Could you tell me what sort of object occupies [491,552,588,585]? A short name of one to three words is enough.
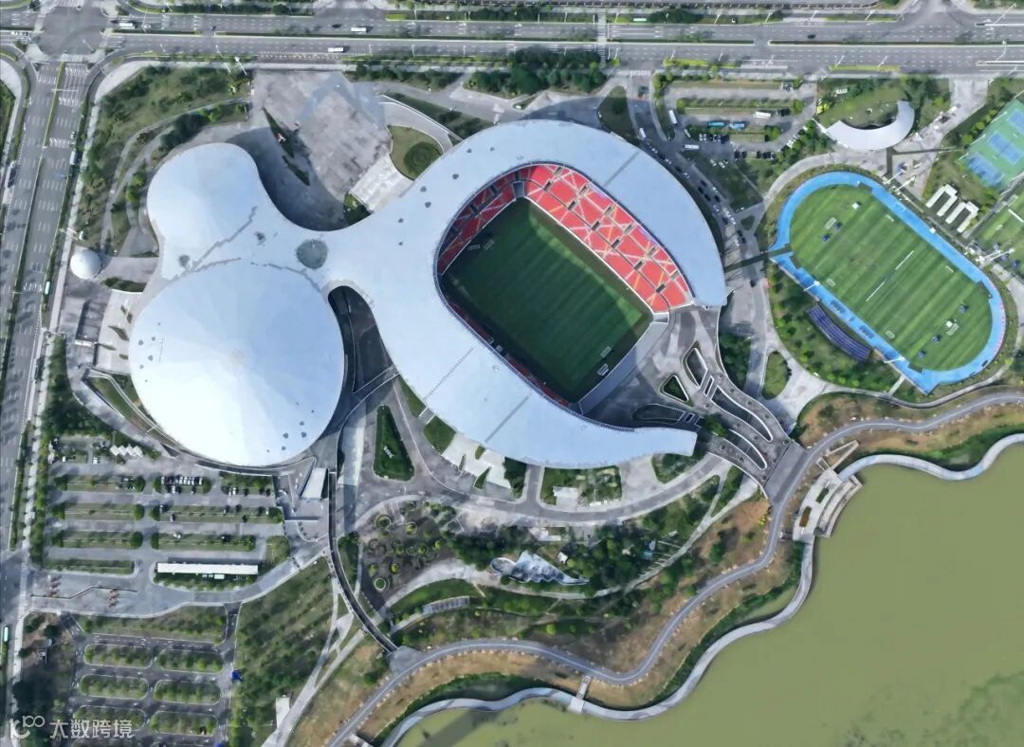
building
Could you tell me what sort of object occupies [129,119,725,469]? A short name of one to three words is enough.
stadium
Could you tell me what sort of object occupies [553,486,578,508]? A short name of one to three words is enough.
building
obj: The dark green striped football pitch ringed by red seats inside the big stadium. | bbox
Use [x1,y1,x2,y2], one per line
[437,192,659,408]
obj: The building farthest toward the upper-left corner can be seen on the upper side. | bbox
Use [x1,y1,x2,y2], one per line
[71,249,105,280]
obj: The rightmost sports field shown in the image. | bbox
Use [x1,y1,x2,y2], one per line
[968,182,1024,282]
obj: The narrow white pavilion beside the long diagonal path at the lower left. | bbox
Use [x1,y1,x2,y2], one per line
[275,695,292,730]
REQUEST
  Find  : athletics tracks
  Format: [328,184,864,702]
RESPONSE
[769,170,1006,394]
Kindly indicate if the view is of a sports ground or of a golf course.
sports ground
